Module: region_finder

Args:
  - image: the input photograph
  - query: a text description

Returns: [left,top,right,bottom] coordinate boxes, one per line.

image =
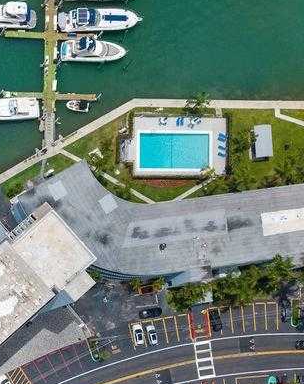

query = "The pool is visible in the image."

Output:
[119,118,225,175]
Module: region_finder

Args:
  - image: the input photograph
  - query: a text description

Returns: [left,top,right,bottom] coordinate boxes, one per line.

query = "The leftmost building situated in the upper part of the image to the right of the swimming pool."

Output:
[247,125,272,163]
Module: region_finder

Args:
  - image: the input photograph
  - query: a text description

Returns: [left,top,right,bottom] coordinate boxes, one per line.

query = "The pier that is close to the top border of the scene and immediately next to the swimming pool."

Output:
[0,0,98,116]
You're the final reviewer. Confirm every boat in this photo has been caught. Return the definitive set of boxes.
[0,0,36,31]
[64,102,89,115]
[59,34,126,63]
[57,5,142,34]
[0,97,41,124]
